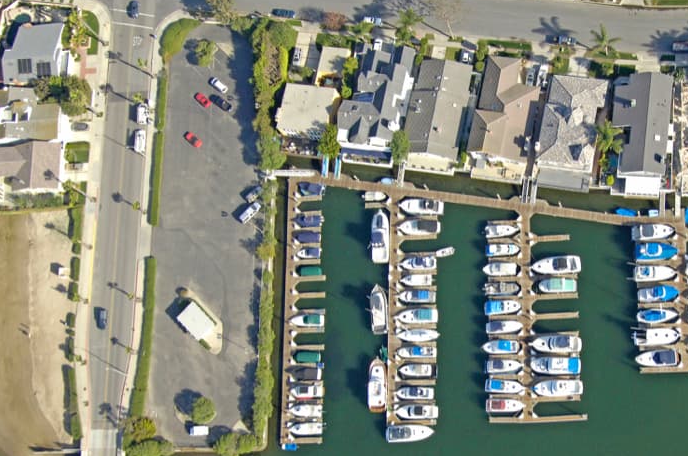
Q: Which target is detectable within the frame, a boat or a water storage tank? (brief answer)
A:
boat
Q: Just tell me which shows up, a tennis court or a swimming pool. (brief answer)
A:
swimming pool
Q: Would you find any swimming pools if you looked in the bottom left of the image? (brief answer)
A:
No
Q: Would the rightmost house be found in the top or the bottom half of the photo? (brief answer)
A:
top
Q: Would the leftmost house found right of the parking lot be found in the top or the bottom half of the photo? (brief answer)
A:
top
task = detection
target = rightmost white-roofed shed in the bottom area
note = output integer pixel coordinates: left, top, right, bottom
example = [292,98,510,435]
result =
[178,302,215,340]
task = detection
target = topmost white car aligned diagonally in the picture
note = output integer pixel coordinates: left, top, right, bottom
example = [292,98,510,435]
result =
[208,77,226,93]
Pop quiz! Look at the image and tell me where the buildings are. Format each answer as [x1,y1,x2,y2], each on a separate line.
[0,143,68,203]
[0,88,67,143]
[276,47,351,144]
[467,57,540,184]
[609,74,673,196]
[405,61,472,176]
[178,302,215,340]
[337,46,416,170]
[537,75,609,192]
[2,23,71,88]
